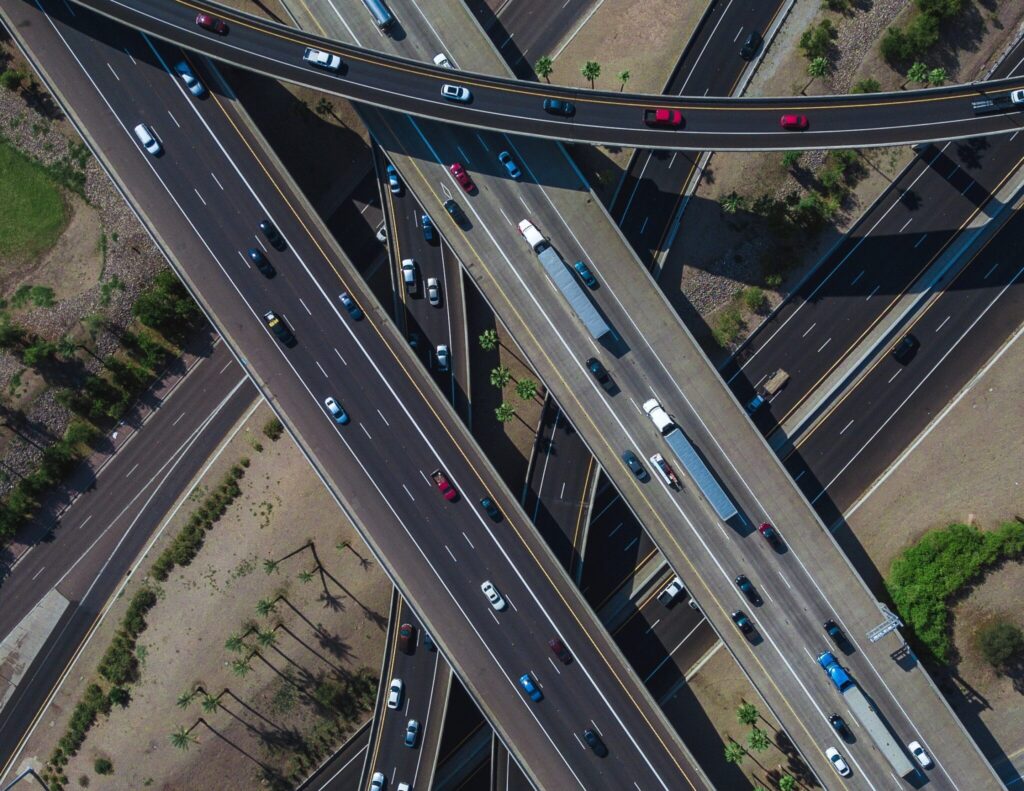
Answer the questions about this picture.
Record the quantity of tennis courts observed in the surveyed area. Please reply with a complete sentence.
There are no tennis courts in the image.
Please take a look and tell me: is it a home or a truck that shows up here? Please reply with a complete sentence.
There is a truck in the scene.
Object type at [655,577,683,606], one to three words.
truck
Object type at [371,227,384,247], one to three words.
vehicle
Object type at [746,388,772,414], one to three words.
truck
